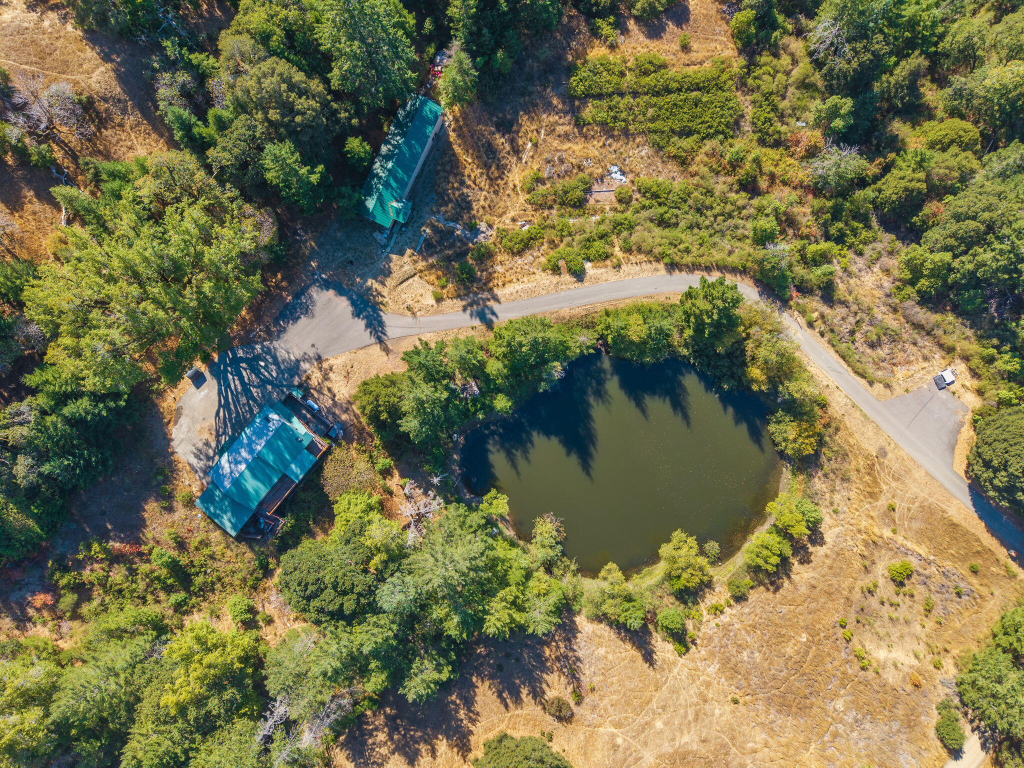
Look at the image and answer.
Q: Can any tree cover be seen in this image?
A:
Yes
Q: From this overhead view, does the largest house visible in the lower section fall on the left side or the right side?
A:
left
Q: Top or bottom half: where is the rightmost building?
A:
top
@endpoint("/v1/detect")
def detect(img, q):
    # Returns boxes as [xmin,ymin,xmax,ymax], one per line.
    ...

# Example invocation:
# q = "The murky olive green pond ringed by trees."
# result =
[456,346,784,574]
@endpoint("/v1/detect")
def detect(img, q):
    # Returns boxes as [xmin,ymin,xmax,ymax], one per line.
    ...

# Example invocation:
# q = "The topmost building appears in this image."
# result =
[353,88,447,234]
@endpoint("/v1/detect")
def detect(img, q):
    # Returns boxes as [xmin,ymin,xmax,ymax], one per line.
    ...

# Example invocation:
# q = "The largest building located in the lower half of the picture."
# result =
[194,393,333,537]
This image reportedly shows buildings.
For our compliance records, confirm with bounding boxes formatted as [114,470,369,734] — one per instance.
[194,393,333,537]
[353,88,447,234]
